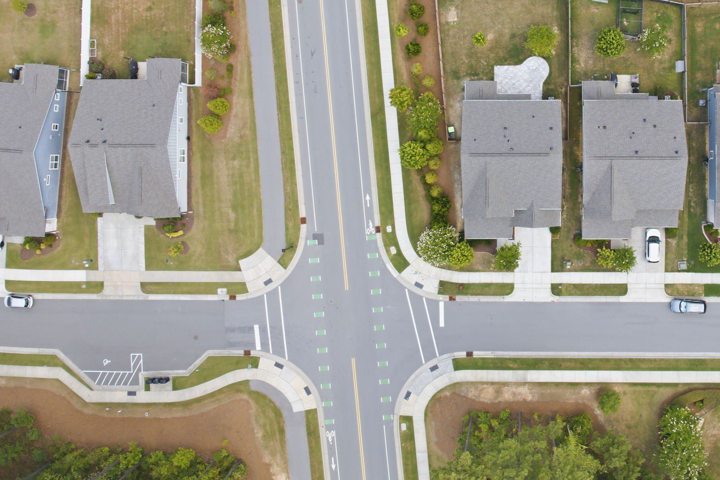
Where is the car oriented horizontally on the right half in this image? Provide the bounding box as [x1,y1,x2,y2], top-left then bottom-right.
[671,299,708,316]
